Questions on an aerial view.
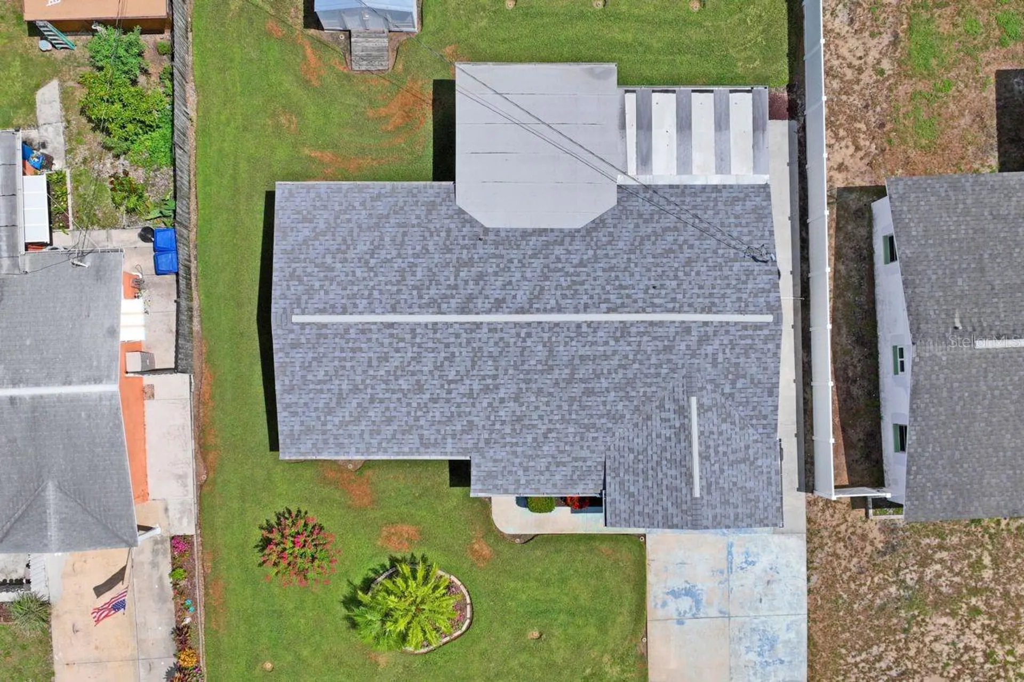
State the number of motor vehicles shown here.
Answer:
none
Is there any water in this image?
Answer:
No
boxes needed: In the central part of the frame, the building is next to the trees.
[271,60,803,530]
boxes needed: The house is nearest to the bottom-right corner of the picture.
[872,174,1024,521]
